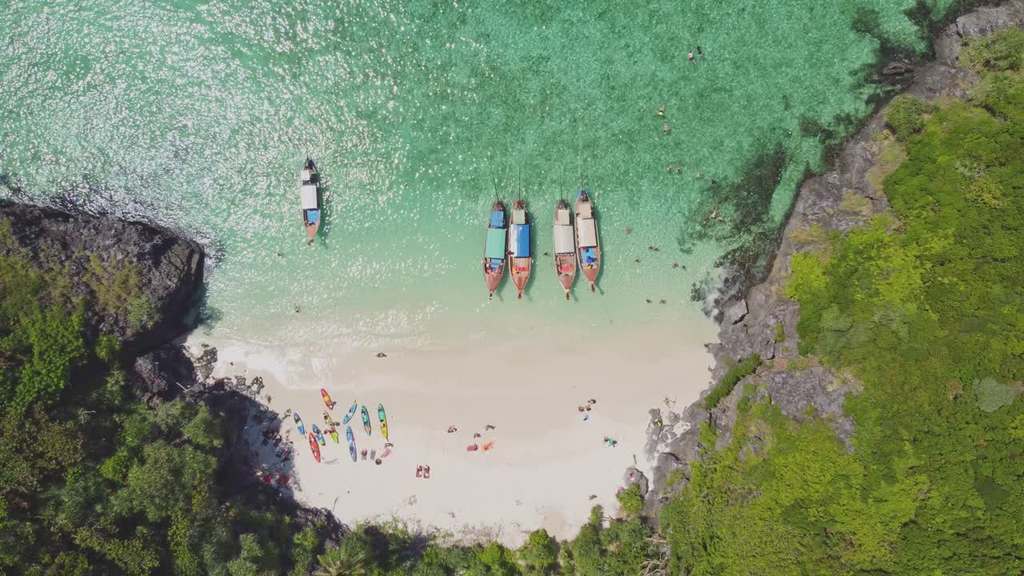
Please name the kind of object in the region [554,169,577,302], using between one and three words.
boat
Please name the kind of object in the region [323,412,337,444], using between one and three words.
boat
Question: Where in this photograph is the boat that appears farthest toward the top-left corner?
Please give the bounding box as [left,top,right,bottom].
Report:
[298,125,319,246]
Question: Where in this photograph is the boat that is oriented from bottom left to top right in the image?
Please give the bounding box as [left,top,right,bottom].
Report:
[342,405,355,425]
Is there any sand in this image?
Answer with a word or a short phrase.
Yes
